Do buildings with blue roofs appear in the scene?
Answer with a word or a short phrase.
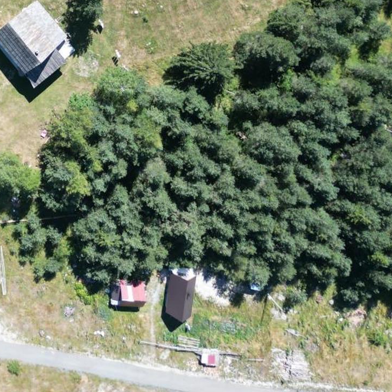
No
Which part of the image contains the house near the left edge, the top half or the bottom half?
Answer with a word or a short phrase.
top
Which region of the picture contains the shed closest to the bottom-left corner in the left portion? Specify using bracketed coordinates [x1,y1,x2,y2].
[110,276,146,307]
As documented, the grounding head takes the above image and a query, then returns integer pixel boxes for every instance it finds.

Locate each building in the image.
[110,276,146,307]
[164,271,197,323]
[201,347,219,366]
[0,1,74,87]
